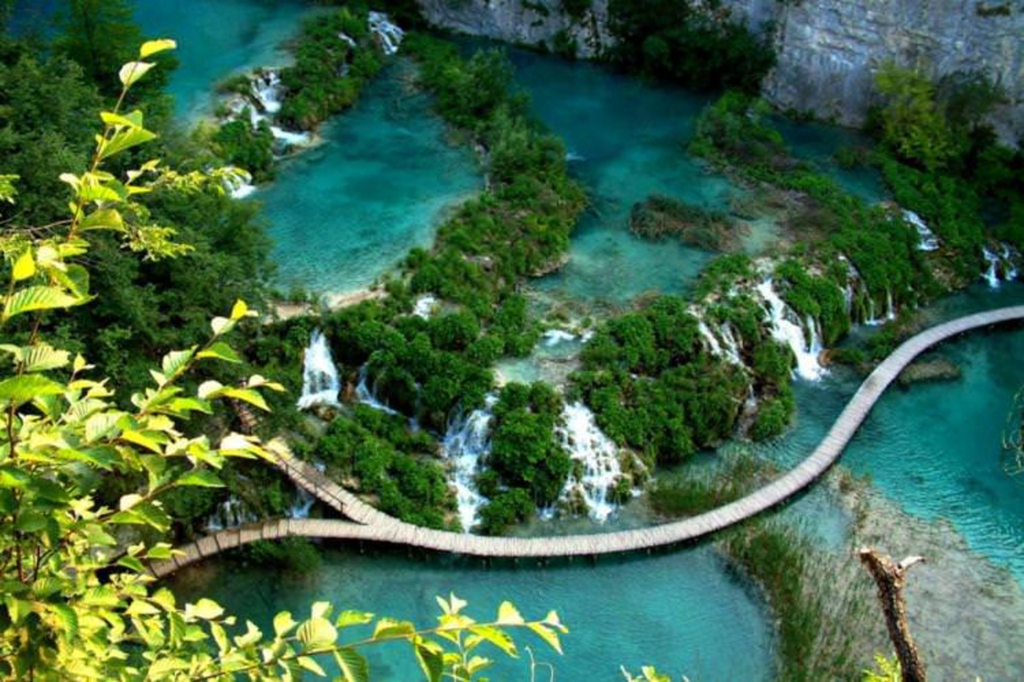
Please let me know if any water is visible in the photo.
Yes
